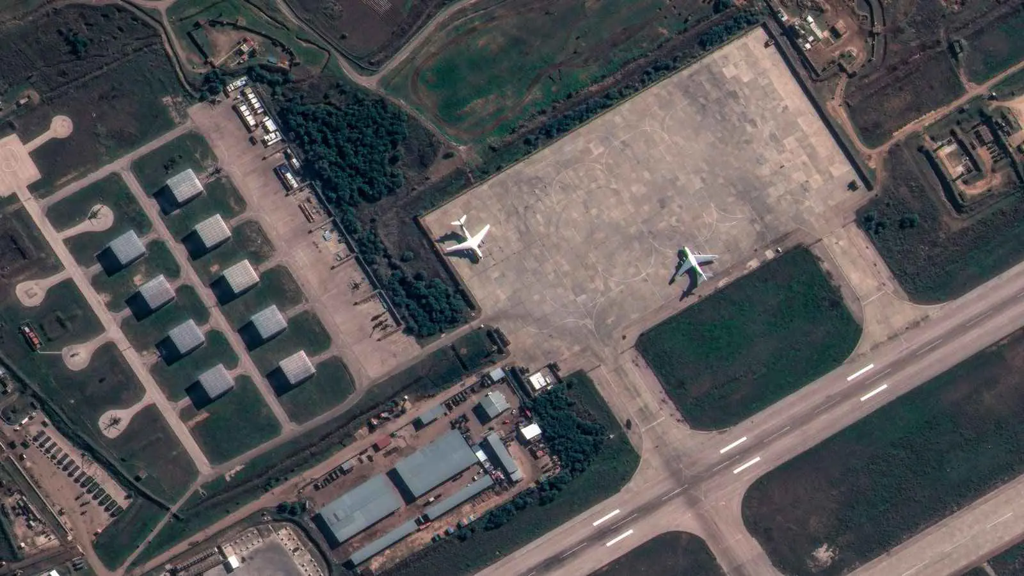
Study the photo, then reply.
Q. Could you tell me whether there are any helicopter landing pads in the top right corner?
No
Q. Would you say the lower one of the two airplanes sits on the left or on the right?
right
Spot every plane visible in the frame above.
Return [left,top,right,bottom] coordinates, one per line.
[674,246,718,280]
[448,218,490,259]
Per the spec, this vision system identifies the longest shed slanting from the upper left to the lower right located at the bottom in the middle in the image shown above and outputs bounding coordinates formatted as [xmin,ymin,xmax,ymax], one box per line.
[487,433,521,483]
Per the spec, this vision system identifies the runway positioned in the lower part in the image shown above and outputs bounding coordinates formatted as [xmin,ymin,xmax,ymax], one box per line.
[473,260,1024,576]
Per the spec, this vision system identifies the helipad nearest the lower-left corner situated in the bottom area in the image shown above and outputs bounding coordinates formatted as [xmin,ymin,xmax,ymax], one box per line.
[100,395,156,433]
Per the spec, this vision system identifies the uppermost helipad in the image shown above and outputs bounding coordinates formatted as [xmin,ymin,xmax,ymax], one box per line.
[25,118,72,154]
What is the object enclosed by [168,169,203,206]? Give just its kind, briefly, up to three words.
hangar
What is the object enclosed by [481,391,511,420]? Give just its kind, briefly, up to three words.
building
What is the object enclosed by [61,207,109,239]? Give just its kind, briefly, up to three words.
helipad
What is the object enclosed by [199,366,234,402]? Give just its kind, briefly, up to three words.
hangar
